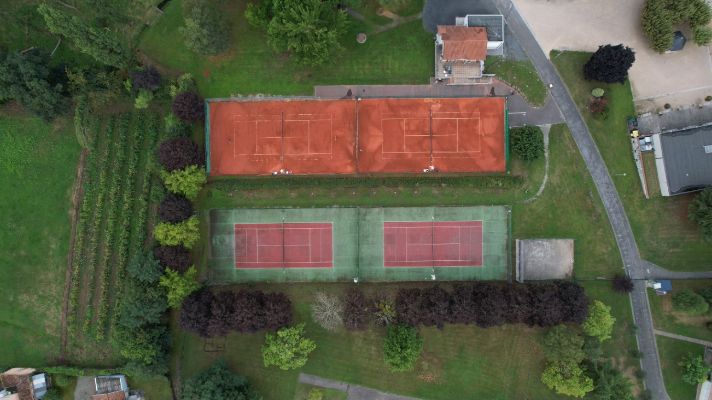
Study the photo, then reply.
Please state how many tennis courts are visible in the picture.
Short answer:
four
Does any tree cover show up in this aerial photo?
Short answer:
Yes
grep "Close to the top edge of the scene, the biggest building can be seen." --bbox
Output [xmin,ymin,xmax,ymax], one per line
[435,15,503,83]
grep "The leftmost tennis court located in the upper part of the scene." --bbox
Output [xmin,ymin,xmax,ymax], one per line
[209,99,357,177]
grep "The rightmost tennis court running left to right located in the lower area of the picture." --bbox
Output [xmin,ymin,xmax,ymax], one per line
[359,205,509,280]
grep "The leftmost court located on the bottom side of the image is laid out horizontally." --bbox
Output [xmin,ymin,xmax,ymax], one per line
[209,207,358,282]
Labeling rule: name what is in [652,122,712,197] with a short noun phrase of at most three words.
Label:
building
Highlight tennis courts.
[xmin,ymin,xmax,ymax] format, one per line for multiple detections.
[209,99,357,177]
[359,205,509,280]
[357,97,506,175]
[209,207,358,282]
